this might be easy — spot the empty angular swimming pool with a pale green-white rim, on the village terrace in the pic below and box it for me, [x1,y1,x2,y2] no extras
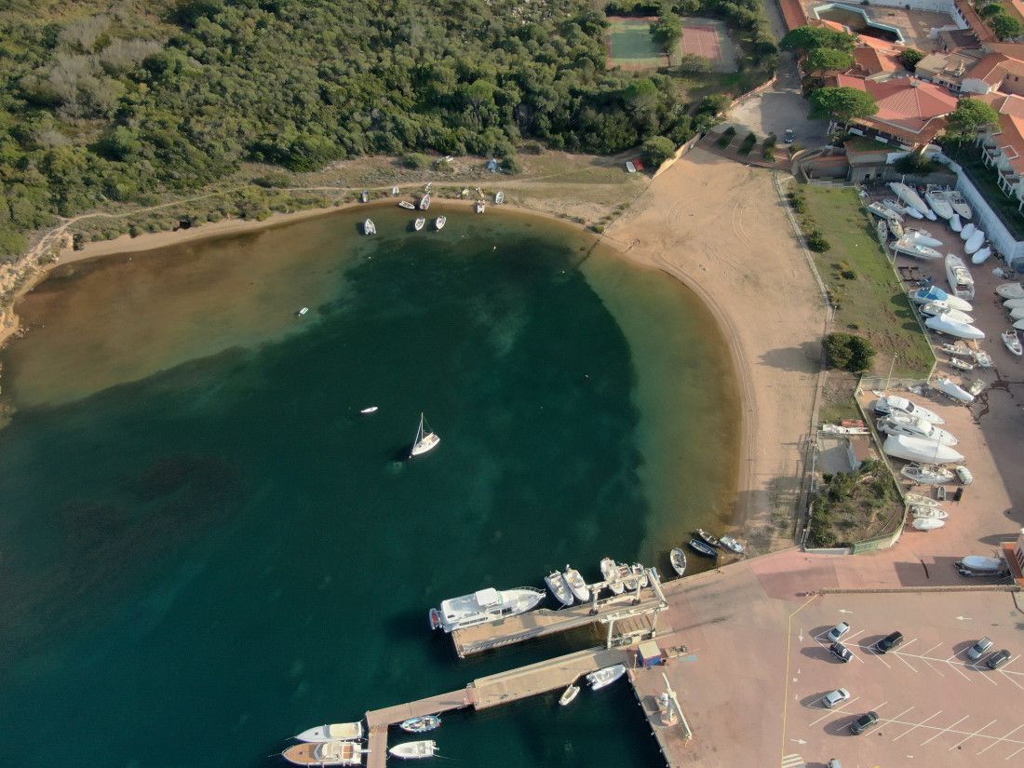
[813,3,906,45]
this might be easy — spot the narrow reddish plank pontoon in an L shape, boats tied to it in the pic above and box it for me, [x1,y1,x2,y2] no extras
[365,689,474,768]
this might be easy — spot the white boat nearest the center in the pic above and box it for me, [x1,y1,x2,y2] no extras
[412,415,441,456]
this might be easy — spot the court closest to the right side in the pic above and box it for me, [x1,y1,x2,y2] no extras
[680,7,740,73]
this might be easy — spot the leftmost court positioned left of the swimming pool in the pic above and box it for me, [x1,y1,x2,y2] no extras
[606,8,671,72]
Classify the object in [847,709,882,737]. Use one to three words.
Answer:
car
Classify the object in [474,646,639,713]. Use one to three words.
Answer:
pier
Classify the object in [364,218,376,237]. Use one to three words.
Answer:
boat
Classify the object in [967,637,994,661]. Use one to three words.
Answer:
car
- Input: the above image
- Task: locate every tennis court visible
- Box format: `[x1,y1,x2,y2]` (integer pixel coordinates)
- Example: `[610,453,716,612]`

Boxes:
[680,7,740,73]
[606,8,671,72]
